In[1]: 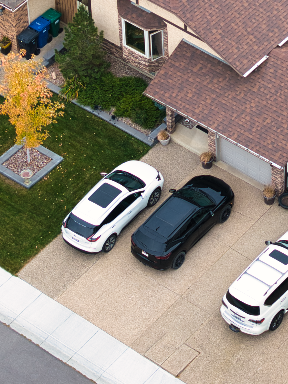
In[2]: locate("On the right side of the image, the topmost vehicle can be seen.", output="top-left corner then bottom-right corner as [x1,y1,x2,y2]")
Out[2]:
[124,176,233,277]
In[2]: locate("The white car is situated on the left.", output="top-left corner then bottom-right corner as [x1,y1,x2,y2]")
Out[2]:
[52,161,161,259]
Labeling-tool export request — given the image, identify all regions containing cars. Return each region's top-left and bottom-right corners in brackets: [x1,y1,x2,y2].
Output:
[124,176,233,277]
[214,230,288,341]
[52,161,161,259]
